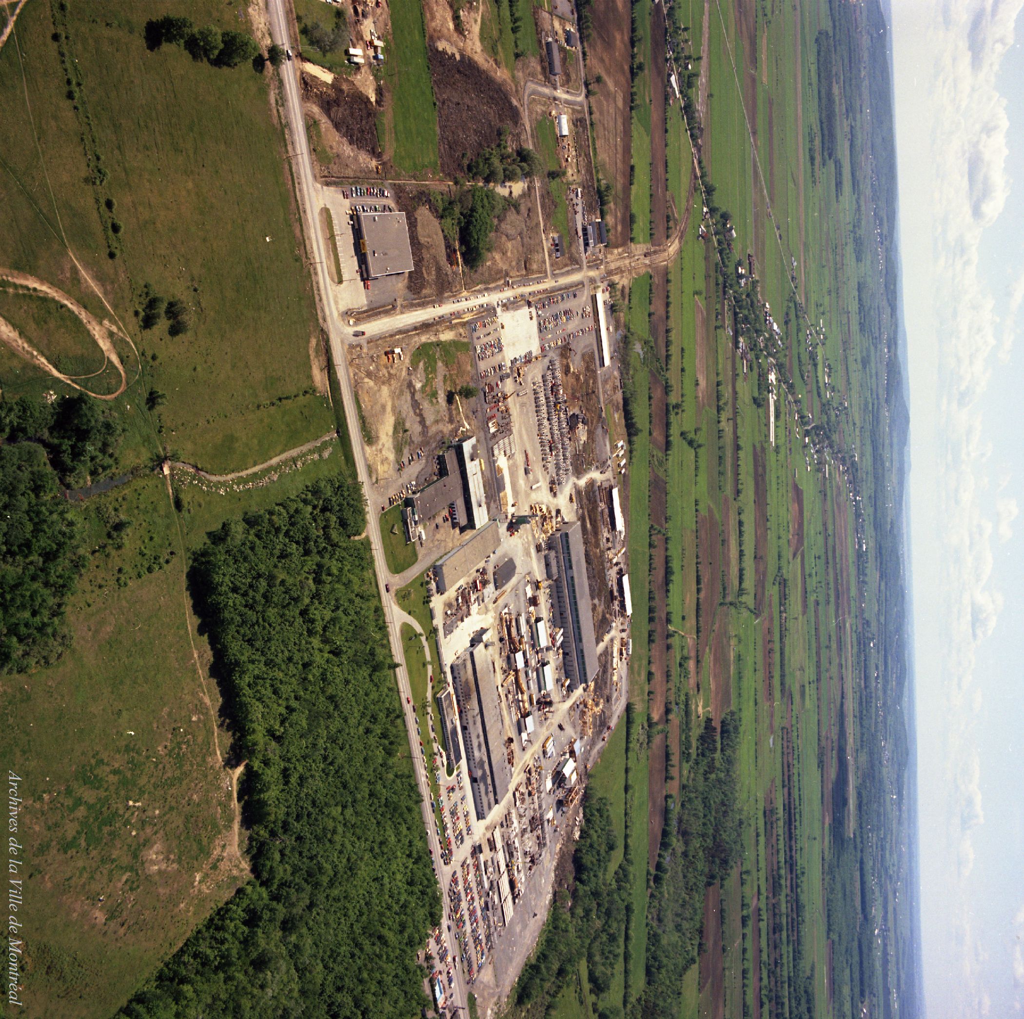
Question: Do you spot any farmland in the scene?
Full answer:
Yes, some farmland is visible.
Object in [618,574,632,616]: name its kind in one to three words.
shed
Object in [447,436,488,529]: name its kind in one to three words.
building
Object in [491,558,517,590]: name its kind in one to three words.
building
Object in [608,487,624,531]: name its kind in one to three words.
shed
